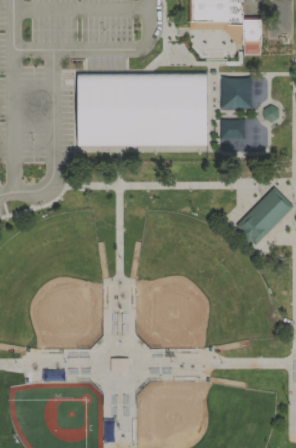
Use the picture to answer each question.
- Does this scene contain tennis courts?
No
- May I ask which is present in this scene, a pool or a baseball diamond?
baseball diamond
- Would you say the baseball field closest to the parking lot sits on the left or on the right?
left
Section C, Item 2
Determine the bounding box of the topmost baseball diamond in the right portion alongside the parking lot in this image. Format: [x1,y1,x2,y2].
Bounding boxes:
[132,210,276,350]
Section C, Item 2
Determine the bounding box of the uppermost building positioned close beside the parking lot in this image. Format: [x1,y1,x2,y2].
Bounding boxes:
[190,0,262,56]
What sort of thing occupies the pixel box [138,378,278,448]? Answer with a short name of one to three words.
baseball field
